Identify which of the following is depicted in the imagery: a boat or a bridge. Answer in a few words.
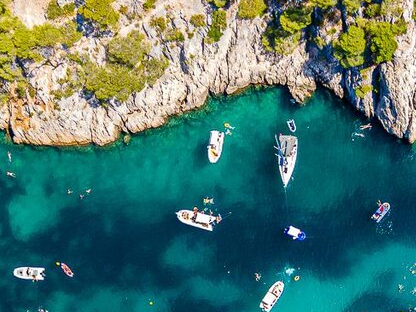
boat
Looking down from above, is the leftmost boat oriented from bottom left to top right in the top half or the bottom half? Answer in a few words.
bottom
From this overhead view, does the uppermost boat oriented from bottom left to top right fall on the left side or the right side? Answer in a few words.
right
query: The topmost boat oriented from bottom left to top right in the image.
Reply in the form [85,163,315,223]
[369,202,389,224]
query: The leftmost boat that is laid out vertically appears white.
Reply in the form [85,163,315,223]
[208,129,224,163]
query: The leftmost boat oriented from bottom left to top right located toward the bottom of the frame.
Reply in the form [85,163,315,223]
[257,283,282,312]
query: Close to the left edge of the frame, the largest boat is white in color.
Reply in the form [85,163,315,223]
[15,267,47,281]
